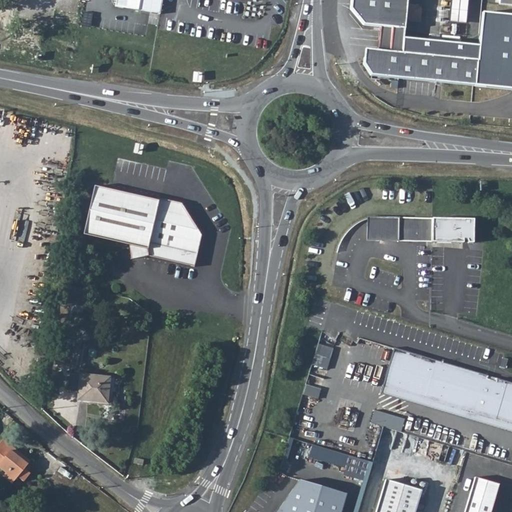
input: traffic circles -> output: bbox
[236,72,354,190]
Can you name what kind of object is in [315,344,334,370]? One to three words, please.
shed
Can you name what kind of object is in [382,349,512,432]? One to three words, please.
building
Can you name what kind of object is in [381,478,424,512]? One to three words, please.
building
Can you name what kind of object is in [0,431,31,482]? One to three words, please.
house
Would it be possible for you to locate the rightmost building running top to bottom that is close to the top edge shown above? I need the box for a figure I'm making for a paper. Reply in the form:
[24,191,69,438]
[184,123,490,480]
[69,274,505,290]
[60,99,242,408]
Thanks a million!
[473,11,512,92]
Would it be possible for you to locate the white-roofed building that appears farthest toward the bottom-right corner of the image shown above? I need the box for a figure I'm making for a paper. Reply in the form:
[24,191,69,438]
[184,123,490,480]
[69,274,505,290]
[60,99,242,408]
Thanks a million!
[465,476,501,512]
